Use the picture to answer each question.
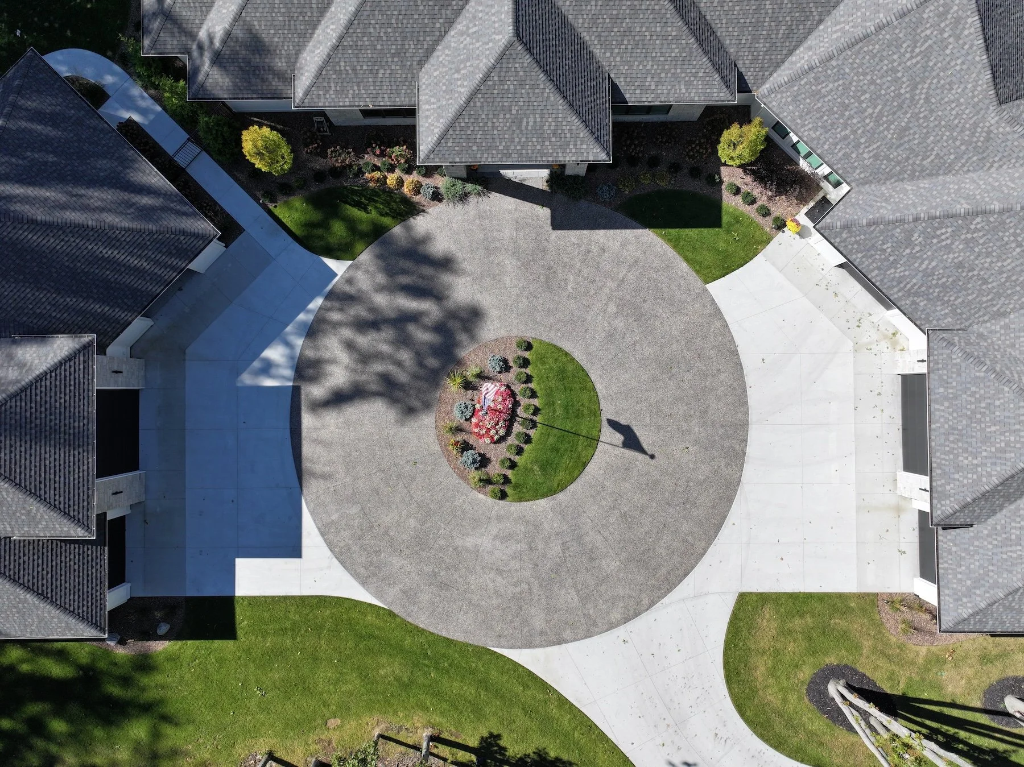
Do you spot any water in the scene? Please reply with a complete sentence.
No, no water is visible.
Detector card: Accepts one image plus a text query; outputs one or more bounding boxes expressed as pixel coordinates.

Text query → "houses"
[0,49,221,639]
[141,0,1024,633]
